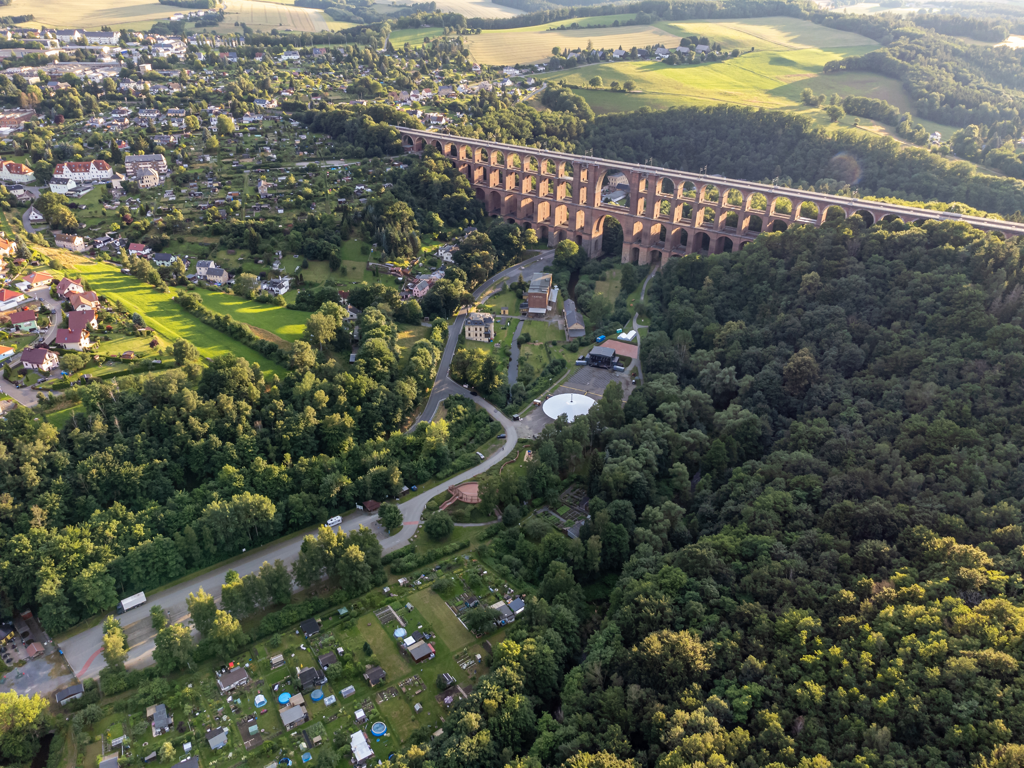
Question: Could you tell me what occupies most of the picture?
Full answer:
Most of the picture is covered by trees.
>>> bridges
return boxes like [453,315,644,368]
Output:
[379,125,1024,267]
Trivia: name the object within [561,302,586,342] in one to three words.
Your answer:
barn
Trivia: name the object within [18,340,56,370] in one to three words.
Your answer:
house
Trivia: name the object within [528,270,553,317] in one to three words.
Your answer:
building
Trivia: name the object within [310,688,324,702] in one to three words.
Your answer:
swimming pool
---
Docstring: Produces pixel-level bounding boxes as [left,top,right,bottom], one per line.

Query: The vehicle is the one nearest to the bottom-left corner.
[115,591,145,612]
